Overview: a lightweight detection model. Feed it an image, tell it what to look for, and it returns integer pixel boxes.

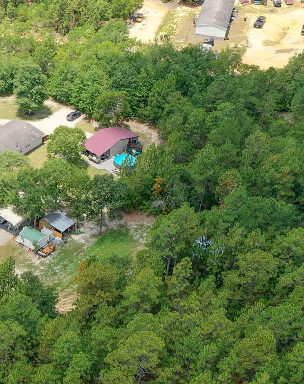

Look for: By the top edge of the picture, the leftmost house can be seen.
[191,0,240,39]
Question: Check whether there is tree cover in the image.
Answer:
Yes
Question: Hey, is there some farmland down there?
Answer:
No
